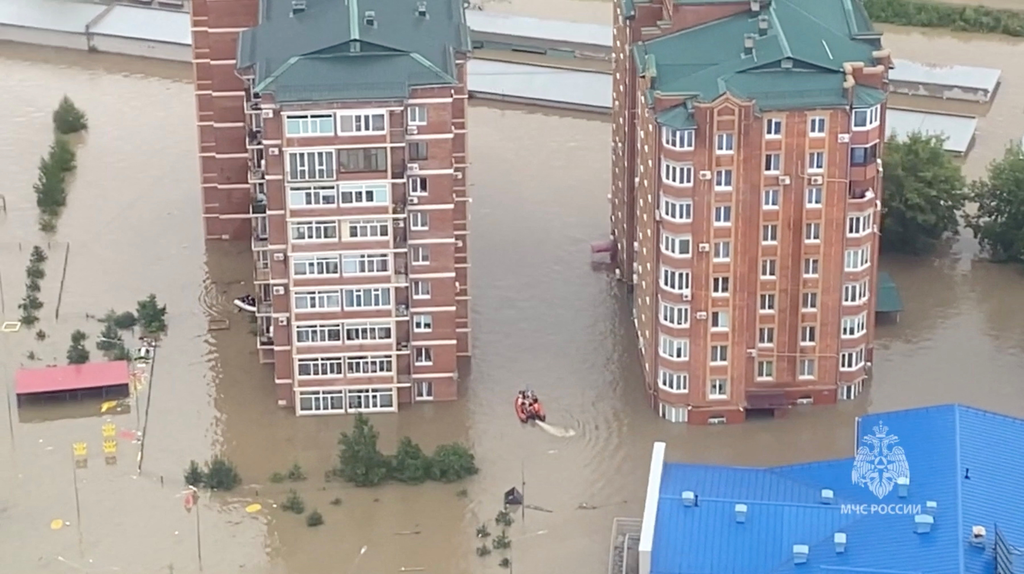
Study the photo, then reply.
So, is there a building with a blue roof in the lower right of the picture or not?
Yes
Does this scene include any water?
Yes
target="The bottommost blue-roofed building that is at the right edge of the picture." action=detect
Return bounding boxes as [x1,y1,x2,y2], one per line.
[639,401,1024,574]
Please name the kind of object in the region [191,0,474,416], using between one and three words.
building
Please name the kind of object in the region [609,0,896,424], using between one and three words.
building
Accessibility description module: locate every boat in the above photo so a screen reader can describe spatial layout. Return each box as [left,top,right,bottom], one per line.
[516,387,548,424]
[235,294,257,317]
